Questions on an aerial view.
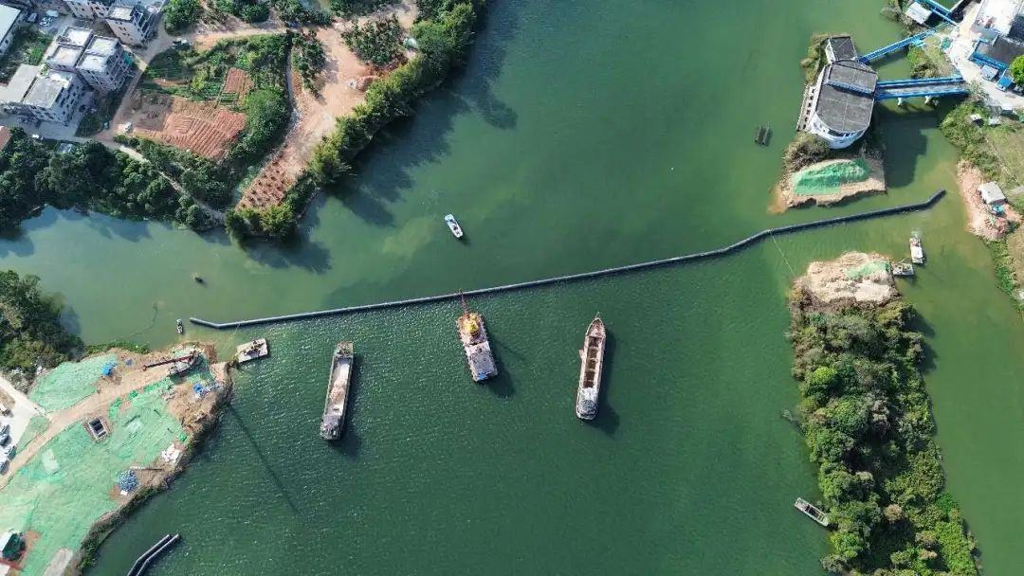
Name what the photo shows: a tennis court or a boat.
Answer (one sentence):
It is a boat that can be seen here.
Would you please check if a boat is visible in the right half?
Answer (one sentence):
Yes, a boat can be seen in the right half.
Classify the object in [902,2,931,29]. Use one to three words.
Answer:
shed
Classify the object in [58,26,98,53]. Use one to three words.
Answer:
house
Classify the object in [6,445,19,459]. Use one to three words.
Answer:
vehicle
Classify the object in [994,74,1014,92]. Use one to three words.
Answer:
vehicle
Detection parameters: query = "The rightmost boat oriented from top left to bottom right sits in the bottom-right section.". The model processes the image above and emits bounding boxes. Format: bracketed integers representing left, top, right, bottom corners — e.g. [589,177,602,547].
[794,498,826,528]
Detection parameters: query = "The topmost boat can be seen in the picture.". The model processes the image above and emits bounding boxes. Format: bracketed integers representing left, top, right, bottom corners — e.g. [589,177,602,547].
[446,214,463,238]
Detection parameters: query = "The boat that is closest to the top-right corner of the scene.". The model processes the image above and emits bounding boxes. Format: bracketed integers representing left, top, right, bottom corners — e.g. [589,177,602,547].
[910,237,926,264]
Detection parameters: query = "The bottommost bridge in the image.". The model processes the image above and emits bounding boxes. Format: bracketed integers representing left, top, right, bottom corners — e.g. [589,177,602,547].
[874,77,968,109]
